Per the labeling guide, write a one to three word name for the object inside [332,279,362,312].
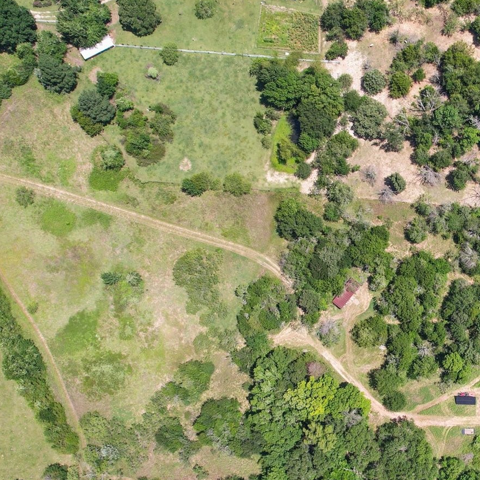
barn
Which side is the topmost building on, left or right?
left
